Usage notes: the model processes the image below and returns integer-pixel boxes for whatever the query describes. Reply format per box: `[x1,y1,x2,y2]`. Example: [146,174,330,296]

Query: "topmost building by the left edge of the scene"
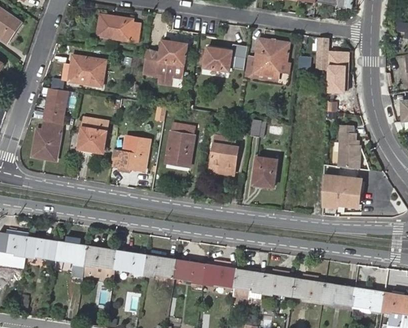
[0,6,22,46]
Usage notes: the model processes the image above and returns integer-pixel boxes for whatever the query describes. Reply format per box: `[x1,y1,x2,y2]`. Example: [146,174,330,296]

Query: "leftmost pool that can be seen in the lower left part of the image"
[97,281,111,306]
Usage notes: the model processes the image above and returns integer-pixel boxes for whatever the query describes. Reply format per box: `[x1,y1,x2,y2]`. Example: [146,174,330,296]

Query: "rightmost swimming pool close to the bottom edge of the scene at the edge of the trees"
[124,292,141,314]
